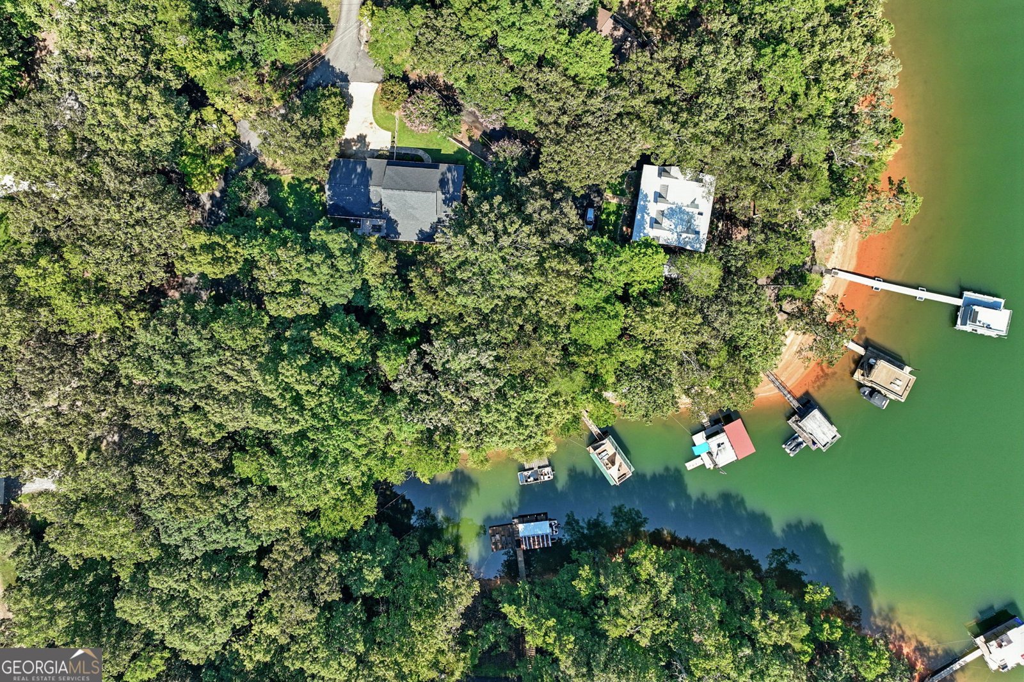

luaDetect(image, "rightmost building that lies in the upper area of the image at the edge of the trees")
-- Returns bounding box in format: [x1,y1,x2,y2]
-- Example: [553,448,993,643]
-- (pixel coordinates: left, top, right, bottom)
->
[630,167,712,252]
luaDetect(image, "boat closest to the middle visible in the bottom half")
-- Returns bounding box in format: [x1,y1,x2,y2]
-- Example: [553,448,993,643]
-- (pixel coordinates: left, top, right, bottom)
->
[519,467,555,484]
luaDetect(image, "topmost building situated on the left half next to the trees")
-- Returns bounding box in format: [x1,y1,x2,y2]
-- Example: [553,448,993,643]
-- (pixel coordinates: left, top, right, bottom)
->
[327,158,467,242]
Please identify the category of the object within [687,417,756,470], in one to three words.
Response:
pier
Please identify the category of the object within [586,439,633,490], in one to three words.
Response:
pier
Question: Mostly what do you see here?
trees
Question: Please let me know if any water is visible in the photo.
Yes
